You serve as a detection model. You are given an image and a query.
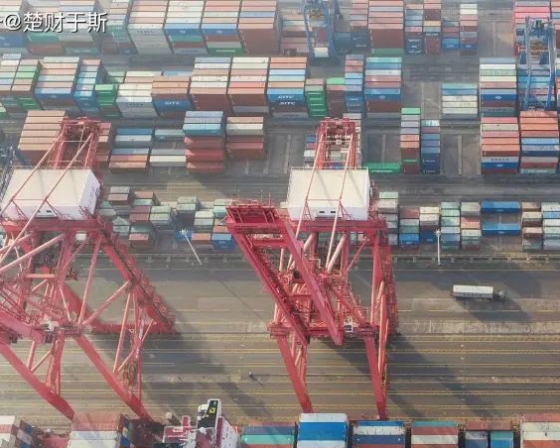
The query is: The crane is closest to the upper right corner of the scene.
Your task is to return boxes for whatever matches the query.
[517,6,558,86]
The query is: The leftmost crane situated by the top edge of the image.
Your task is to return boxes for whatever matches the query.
[296,0,338,63]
